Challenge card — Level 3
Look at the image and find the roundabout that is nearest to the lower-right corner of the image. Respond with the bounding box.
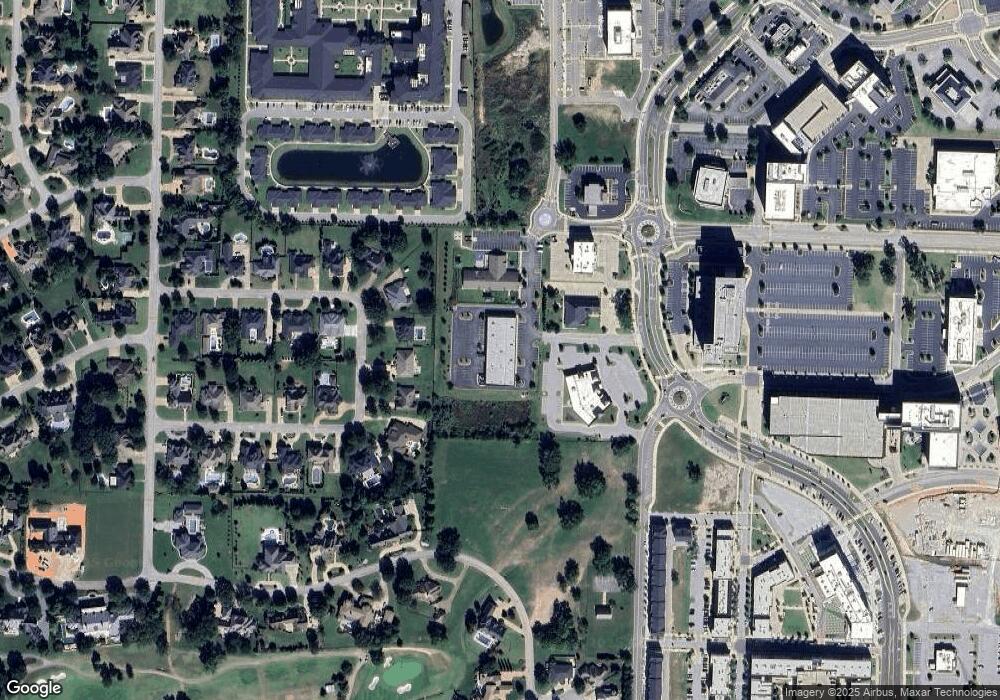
[660,378,700,418]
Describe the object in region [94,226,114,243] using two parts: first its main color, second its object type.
white swimming pool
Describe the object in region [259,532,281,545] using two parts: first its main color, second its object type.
white swimming pool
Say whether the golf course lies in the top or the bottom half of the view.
bottom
